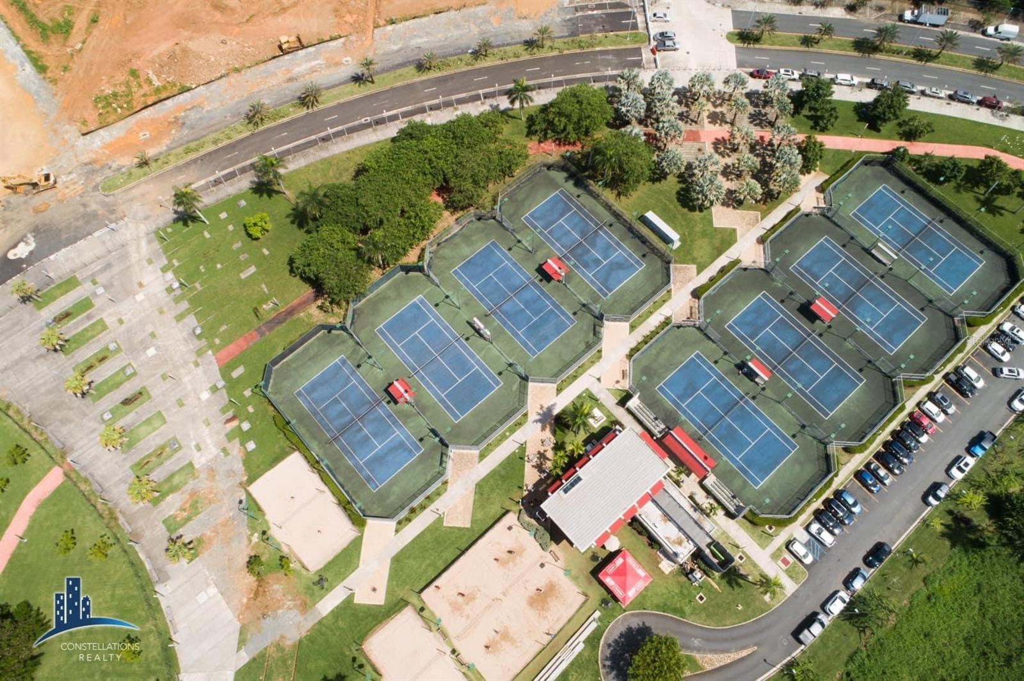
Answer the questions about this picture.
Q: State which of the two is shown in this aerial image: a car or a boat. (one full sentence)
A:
This aerial view contains a car.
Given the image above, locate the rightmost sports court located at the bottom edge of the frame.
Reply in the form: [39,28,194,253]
[420,512,588,681]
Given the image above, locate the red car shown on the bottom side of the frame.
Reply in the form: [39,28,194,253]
[908,409,936,435]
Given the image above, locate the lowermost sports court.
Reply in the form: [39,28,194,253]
[362,606,471,681]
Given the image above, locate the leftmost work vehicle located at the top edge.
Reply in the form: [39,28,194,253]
[278,34,303,53]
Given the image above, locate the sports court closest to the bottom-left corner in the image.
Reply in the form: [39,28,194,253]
[248,452,360,572]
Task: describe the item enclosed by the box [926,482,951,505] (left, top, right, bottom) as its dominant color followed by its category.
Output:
white car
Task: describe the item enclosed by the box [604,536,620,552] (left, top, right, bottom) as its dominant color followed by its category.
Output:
white umbrella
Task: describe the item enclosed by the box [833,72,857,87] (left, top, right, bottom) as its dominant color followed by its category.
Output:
white car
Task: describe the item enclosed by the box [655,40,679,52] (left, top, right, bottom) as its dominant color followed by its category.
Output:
gray vehicle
